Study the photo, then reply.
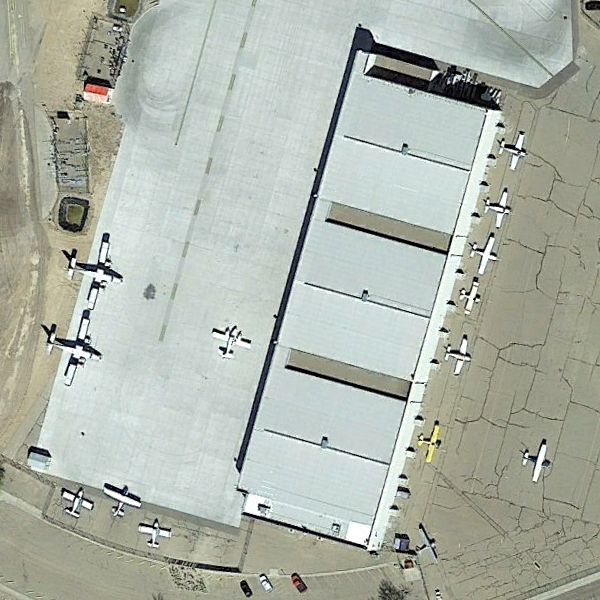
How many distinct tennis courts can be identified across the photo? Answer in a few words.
0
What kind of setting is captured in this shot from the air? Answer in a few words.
airport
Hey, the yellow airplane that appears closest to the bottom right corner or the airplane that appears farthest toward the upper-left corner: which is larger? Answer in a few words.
the airplane that appears farthest toward the upper-left corner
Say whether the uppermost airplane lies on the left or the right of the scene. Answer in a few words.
right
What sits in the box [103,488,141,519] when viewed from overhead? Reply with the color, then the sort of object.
white airplane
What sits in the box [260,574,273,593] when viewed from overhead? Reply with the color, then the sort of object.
white vehicle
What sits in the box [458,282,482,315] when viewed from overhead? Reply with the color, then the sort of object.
white airplane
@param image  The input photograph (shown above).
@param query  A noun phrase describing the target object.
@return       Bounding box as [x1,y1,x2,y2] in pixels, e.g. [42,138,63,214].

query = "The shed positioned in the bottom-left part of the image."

[29,451,52,472]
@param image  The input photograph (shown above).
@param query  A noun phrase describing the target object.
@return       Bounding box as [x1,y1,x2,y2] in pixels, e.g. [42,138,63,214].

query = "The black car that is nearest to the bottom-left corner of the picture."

[240,579,253,598]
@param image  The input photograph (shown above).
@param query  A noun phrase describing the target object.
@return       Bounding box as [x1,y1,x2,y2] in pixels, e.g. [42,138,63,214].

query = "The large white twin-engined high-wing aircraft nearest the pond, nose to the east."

[62,241,121,311]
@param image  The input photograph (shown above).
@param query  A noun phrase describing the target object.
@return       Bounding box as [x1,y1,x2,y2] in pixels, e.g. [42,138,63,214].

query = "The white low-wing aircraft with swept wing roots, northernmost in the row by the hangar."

[497,134,529,170]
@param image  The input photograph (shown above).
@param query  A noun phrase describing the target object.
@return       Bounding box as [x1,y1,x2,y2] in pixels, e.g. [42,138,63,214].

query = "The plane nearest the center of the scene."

[212,326,250,360]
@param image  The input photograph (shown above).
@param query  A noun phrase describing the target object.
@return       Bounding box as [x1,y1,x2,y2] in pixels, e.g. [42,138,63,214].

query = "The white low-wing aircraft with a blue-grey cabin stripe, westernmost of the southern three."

[62,491,93,517]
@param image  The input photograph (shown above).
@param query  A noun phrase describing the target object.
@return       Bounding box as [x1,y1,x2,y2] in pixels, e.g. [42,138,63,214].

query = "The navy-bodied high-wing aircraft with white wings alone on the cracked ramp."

[521,445,553,482]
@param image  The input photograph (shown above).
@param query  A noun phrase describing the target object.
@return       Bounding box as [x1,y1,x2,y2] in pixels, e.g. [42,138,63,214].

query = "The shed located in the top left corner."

[85,81,112,102]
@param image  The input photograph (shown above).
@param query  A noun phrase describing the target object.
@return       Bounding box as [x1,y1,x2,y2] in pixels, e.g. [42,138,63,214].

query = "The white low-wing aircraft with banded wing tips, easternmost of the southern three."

[138,523,171,548]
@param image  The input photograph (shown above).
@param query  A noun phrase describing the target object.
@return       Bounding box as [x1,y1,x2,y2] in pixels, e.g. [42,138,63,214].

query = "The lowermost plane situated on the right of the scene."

[414,526,438,564]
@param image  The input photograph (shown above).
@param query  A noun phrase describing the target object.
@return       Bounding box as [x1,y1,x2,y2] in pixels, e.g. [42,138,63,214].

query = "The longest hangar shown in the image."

[234,49,501,550]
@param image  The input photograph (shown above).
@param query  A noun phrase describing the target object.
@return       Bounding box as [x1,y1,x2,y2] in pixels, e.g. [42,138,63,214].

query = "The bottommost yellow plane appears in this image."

[415,425,442,462]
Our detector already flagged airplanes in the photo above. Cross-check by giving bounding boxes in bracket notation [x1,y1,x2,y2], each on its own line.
[521,445,553,482]
[468,237,499,274]
[483,192,513,227]
[212,326,250,360]
[415,425,442,462]
[103,488,141,519]
[39,319,101,386]
[62,491,93,517]
[458,282,482,315]
[62,241,121,311]
[442,339,473,375]
[497,134,529,170]
[414,526,438,564]
[138,523,171,548]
